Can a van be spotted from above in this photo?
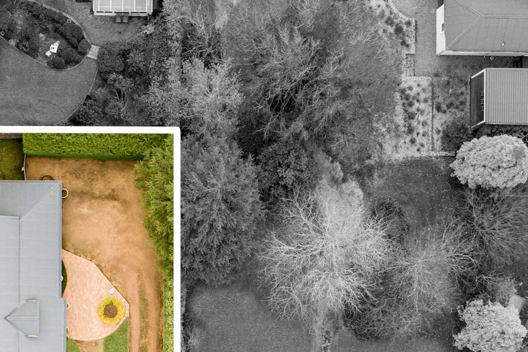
No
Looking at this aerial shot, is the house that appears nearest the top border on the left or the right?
right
